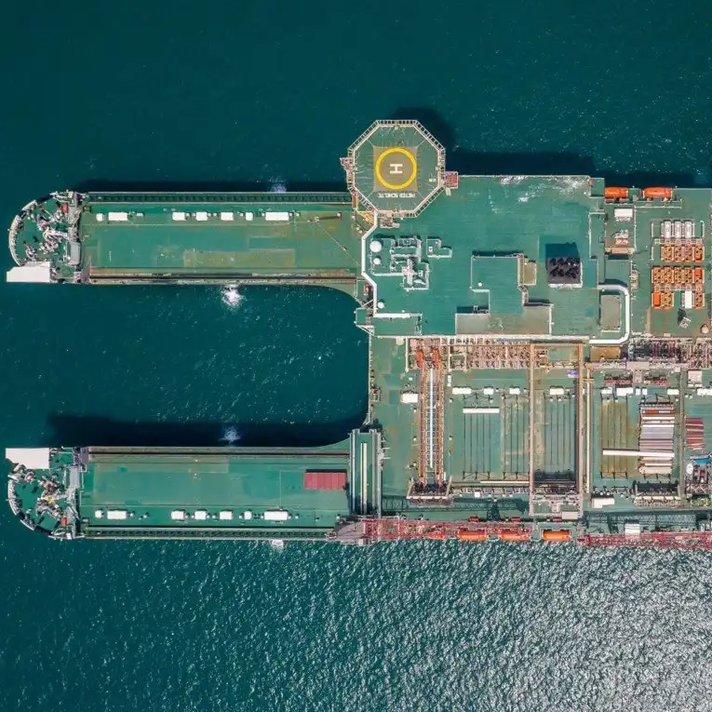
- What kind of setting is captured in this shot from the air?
port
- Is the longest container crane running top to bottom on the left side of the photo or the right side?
right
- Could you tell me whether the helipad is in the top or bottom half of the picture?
top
